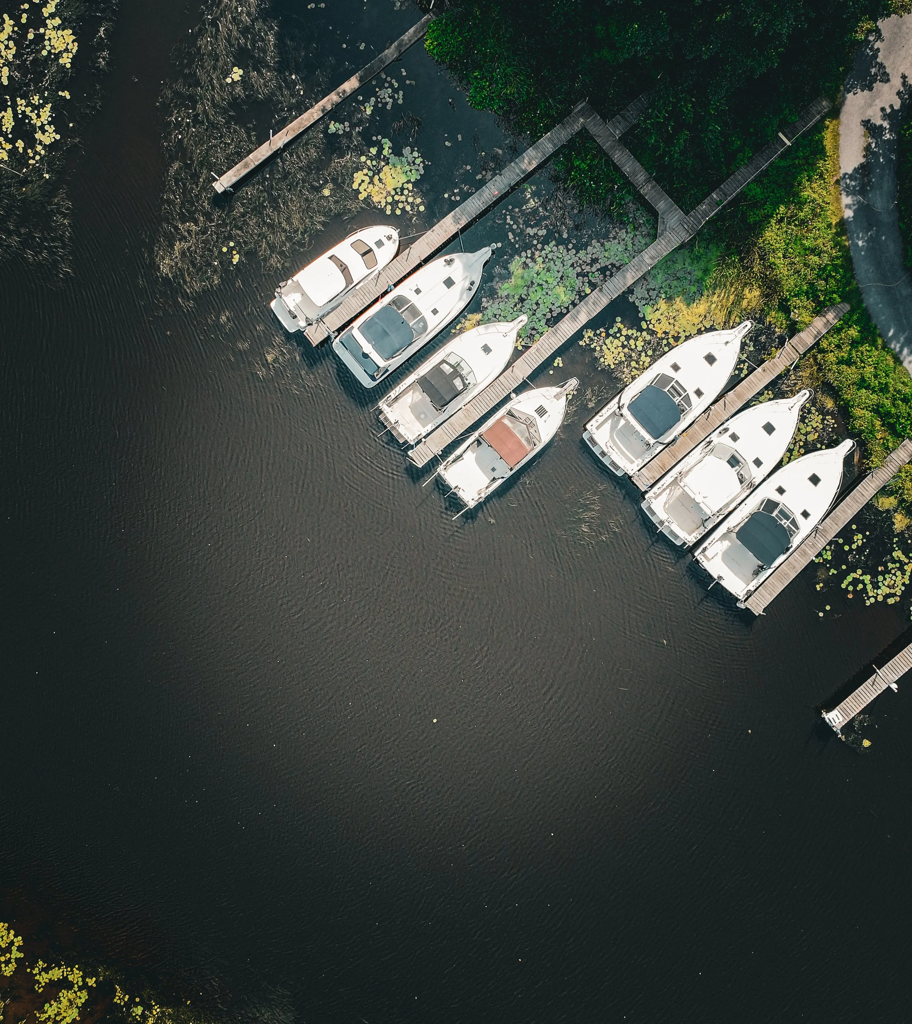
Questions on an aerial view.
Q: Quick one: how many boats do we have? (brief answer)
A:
7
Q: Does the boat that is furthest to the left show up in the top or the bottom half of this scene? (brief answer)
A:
top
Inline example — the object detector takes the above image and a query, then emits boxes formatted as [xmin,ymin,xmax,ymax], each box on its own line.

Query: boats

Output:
[270,229,400,332]
[582,319,756,476]
[423,377,580,519]
[641,388,815,548]
[693,438,857,602]
[331,243,498,390]
[371,313,528,449]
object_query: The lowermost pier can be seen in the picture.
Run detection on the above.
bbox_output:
[819,641,912,739]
